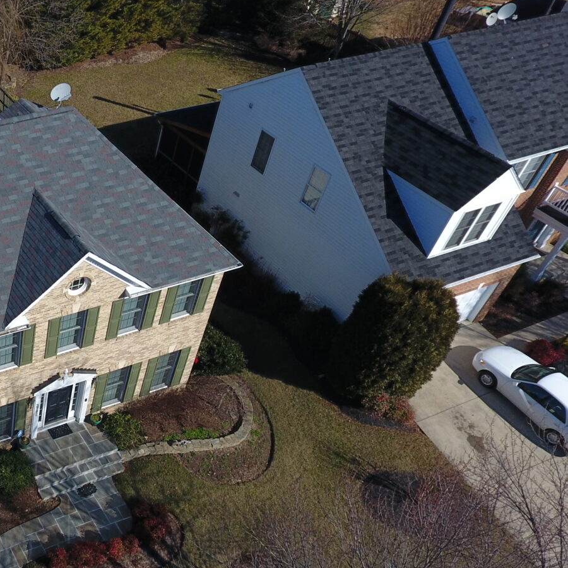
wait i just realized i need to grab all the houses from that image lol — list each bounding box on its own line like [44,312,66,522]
[0,88,245,450]
[145,0,568,349]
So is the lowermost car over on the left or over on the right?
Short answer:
right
